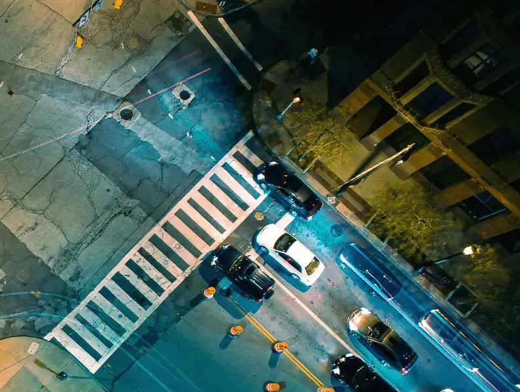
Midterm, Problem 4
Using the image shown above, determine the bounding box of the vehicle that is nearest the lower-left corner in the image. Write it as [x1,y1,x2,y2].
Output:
[202,244,284,307]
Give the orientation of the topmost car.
on a diagonal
